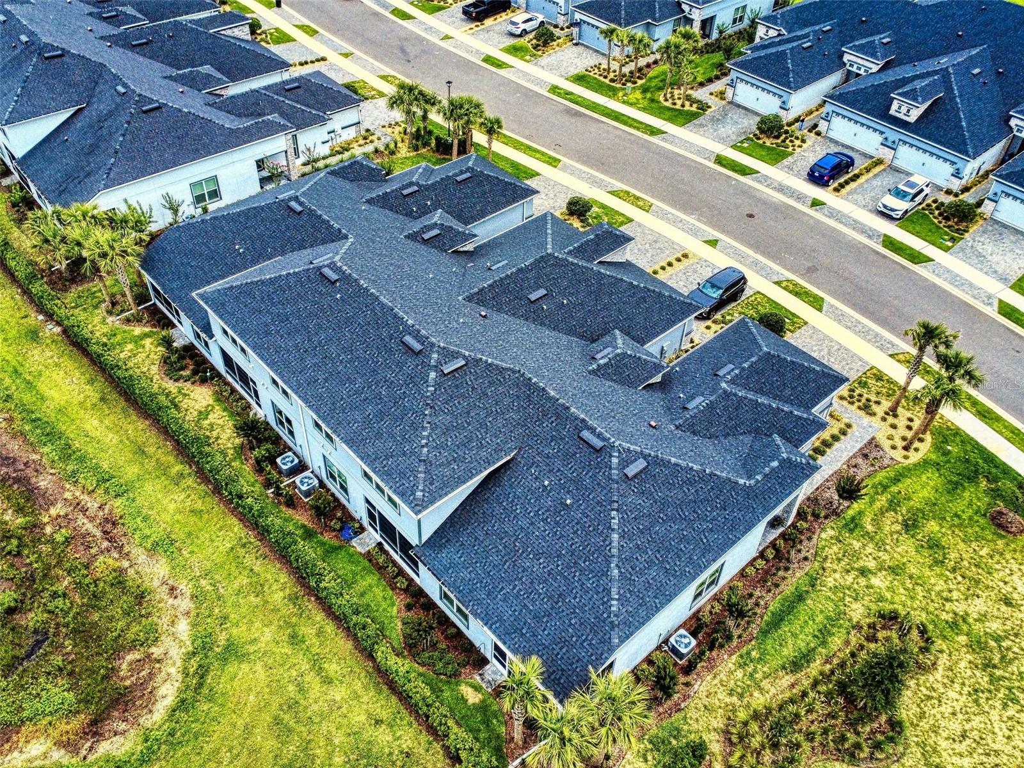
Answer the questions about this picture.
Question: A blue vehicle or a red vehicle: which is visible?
blue vehicle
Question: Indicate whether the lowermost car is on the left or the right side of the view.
right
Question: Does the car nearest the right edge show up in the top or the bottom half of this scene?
top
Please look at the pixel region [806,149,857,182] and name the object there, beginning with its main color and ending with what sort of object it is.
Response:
blue car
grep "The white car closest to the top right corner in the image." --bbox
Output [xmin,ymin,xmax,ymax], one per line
[879,171,934,216]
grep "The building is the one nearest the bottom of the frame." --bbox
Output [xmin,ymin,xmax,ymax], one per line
[103,154,854,727]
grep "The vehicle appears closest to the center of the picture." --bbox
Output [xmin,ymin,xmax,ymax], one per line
[689,265,752,319]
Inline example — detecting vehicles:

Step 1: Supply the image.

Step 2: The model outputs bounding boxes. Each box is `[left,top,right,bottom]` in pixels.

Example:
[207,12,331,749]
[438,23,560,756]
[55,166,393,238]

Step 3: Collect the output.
[506,10,546,34]
[689,265,752,319]
[466,0,516,18]
[879,171,934,216]
[806,149,857,182]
